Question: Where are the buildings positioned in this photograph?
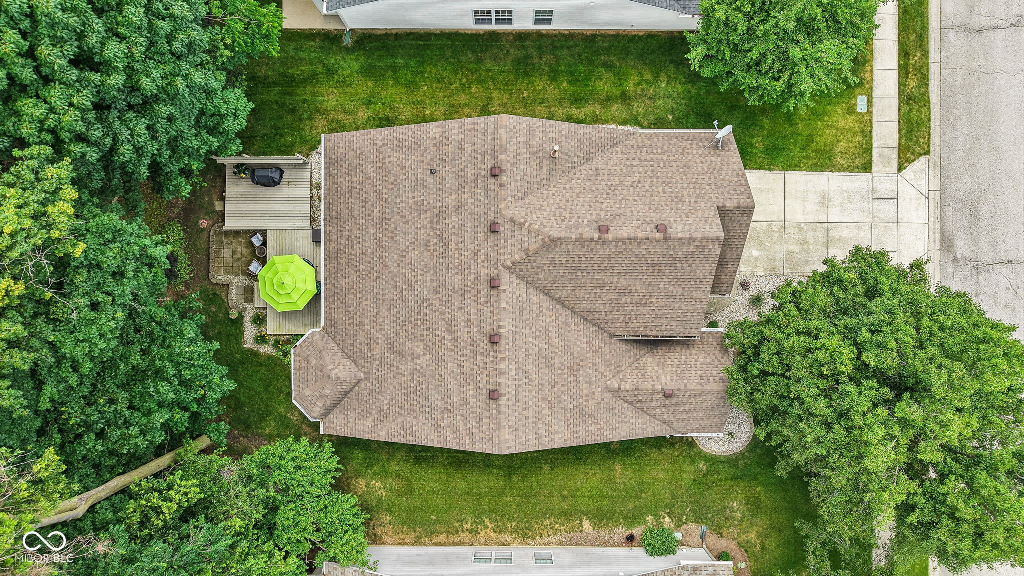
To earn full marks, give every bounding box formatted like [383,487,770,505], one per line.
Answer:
[322,0,736,36]
[290,114,753,454]
[322,526,736,576]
